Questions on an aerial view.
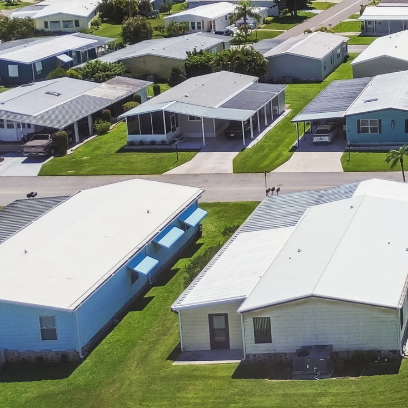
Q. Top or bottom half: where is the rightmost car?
top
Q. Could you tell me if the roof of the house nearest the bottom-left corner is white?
Yes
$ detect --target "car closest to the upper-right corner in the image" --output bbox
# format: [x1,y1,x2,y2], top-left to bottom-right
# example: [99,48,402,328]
[314,120,340,140]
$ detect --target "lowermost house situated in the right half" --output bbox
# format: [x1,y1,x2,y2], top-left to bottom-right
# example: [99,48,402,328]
[159,175,408,365]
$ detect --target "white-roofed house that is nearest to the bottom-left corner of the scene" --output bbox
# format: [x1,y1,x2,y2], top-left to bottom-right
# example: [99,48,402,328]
[0,180,209,358]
